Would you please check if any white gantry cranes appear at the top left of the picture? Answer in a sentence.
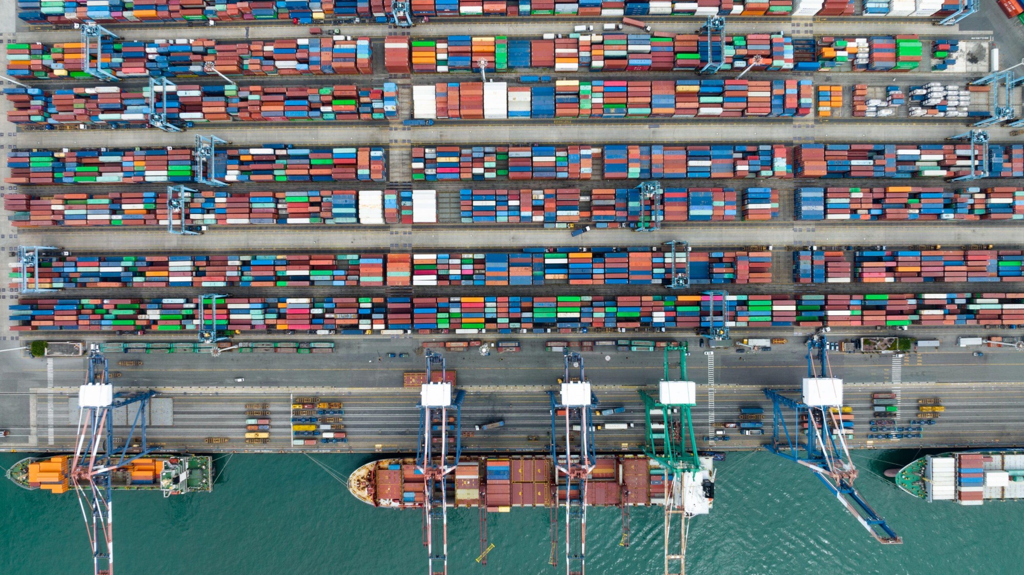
No, at the top left of the picture there is no white gantry crane.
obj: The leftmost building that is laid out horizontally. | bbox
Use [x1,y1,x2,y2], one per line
[45,342,87,356]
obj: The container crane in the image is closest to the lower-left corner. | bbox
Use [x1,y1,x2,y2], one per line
[67,351,159,575]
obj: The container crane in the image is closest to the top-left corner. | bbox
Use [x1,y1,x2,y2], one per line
[83,23,128,82]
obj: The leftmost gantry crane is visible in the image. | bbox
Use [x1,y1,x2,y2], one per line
[20,245,68,293]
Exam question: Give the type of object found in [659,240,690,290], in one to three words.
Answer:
container crane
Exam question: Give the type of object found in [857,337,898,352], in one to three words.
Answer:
building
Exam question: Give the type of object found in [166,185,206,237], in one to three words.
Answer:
container crane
